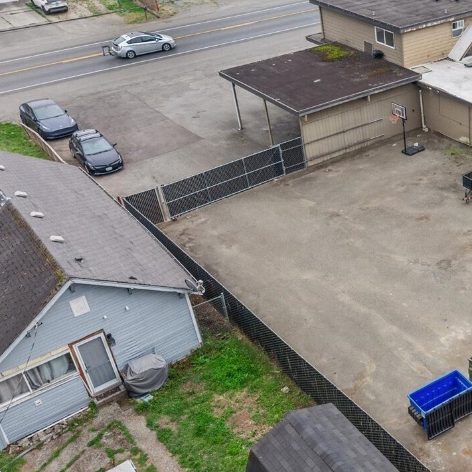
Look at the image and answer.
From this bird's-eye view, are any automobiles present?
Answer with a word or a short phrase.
Yes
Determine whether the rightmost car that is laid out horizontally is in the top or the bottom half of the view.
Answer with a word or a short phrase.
top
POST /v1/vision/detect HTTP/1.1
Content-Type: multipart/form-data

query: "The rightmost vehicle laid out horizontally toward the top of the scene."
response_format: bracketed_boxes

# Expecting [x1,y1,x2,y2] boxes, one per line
[104,31,177,58]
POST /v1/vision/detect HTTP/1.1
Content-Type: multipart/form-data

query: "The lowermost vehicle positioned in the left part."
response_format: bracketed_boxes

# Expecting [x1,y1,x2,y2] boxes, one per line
[60,127,123,173]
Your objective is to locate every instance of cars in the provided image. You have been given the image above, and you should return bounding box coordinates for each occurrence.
[60,127,123,173]
[32,0,66,13]
[21,92,79,137]
[104,31,177,58]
